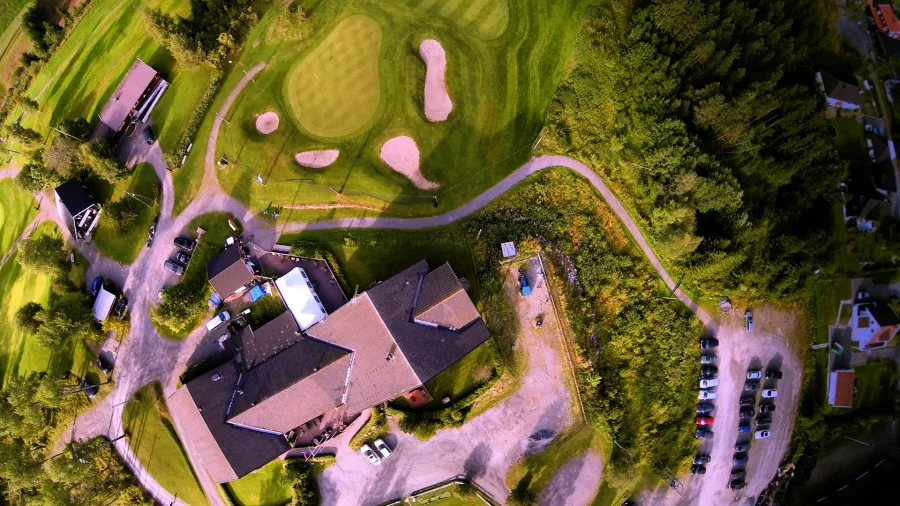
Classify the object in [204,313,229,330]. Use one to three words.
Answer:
vehicle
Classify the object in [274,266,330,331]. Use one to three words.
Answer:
tent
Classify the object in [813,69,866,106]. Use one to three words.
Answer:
house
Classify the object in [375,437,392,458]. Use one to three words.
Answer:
car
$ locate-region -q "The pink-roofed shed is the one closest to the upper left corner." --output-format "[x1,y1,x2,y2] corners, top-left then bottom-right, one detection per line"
[98,57,171,127]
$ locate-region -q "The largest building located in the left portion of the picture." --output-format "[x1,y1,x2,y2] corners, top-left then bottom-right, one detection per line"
[166,260,492,482]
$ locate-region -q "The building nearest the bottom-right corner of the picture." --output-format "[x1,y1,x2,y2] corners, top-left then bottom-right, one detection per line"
[823,369,853,408]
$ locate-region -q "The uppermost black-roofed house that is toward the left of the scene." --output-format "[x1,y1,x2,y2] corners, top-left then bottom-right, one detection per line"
[54,177,103,242]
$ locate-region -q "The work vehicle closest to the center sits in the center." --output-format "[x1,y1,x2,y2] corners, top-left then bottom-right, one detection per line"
[517,270,532,293]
